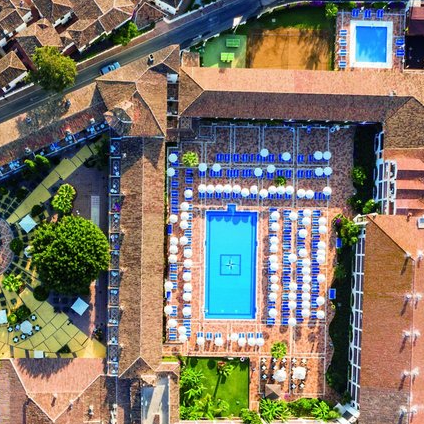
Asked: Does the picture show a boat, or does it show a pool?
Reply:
pool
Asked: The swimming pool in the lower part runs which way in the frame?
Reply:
up and down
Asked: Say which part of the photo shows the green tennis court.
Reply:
top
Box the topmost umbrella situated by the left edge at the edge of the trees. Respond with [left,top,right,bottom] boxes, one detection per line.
[20,216,35,231]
